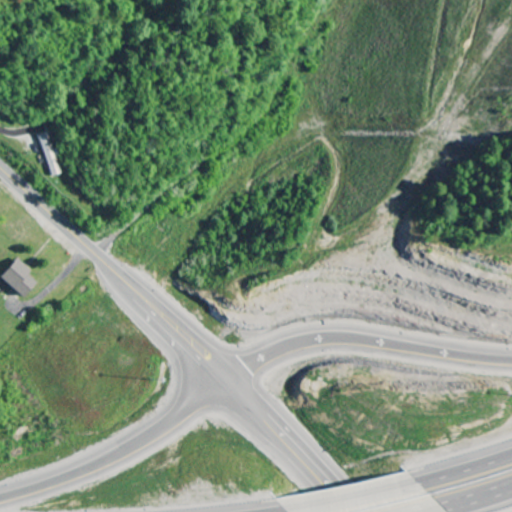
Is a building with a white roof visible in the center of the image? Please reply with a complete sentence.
No, I can find no building with a white roof in the center of the image.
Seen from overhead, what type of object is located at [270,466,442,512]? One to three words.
overpass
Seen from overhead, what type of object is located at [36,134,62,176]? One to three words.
house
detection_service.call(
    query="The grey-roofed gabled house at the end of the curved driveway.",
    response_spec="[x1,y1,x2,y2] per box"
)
[2,259,38,298]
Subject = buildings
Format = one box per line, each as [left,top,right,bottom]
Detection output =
[2,259,38,298]
[36,134,62,176]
